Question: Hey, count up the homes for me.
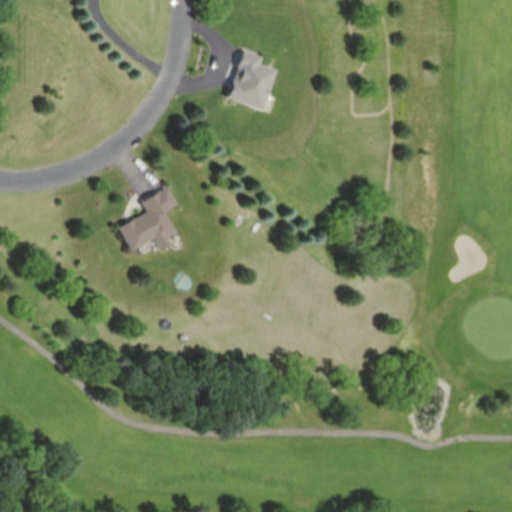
2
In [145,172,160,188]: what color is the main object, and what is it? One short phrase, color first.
white vehicle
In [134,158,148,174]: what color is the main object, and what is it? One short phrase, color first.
white vehicle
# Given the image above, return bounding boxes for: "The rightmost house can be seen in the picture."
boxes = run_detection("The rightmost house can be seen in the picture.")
[228,48,278,114]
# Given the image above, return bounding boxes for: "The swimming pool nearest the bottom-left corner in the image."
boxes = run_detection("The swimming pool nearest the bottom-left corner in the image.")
[174,272,192,291]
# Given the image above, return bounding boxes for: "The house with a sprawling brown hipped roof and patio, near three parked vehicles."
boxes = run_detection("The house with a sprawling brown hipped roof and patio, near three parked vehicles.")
[120,186,180,251]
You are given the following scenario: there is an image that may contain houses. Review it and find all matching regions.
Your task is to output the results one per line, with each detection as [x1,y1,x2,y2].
[120,186,180,251]
[228,48,278,114]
